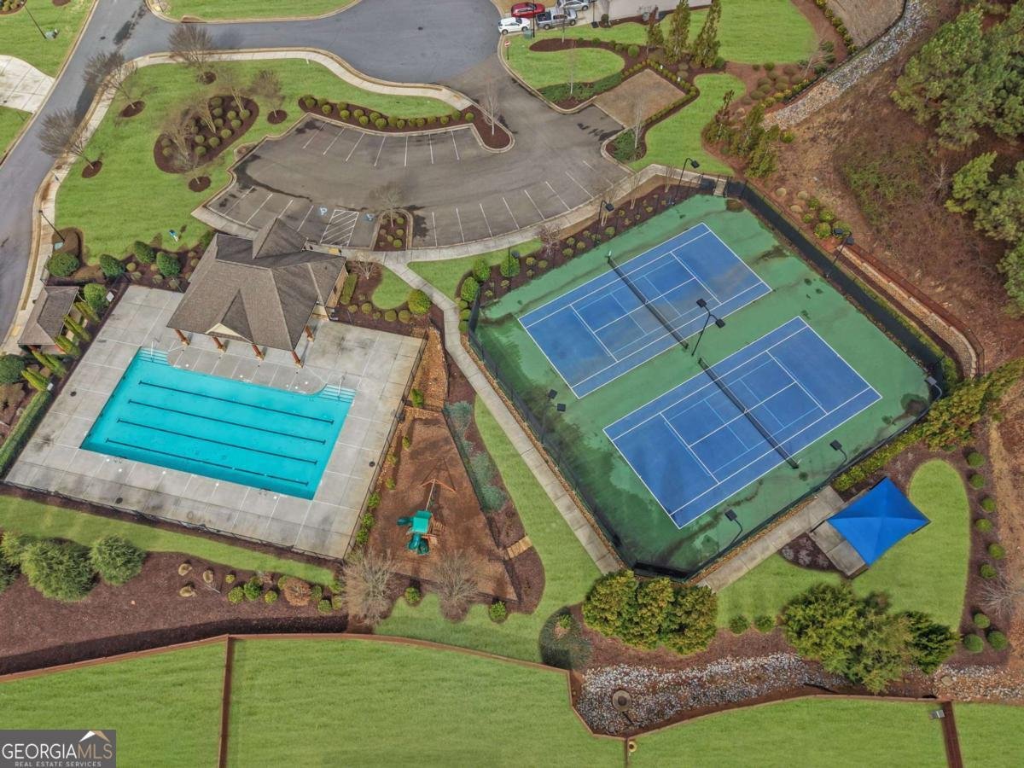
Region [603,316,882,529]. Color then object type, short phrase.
blue tennis court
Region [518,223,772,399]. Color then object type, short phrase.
blue tennis court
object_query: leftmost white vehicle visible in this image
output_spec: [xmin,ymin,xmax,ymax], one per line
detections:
[498,13,530,31]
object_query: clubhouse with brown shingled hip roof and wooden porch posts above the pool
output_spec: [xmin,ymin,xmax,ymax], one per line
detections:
[166,216,347,368]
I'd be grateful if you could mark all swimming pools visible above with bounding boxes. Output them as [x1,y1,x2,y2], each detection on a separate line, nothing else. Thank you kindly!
[77,344,358,502]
